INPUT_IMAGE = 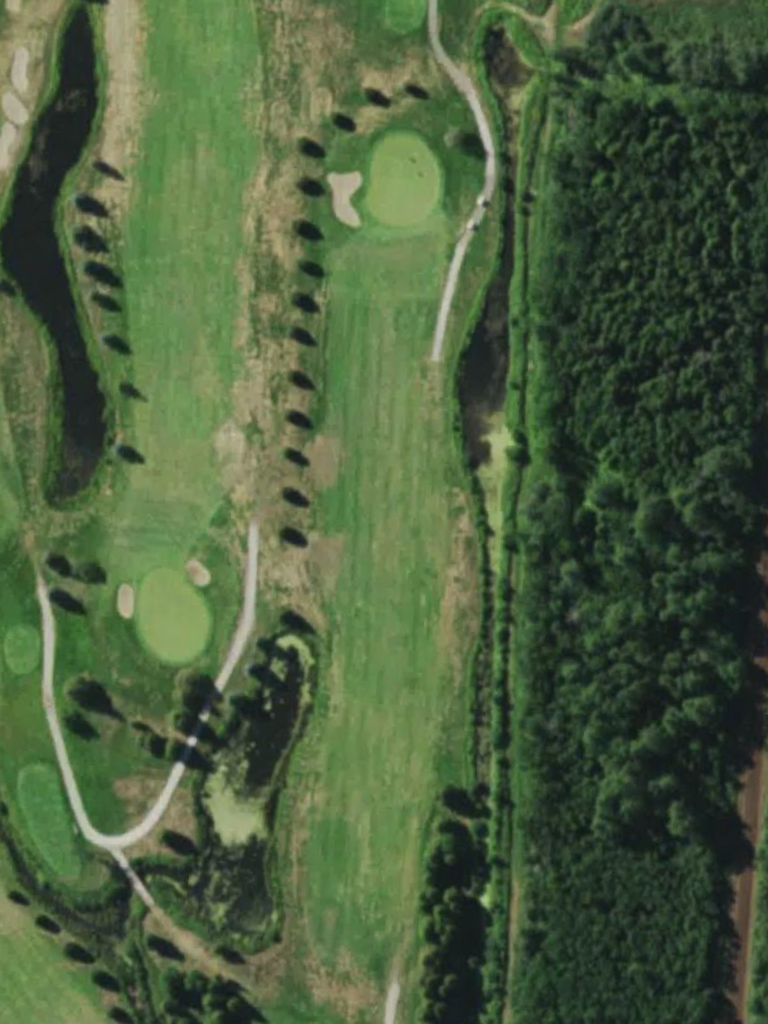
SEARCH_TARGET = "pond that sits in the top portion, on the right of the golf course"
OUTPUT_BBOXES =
[457,29,529,595]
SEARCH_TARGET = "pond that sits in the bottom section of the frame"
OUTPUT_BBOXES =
[204,634,316,850]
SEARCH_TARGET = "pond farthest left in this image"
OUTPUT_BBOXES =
[0,7,106,500]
